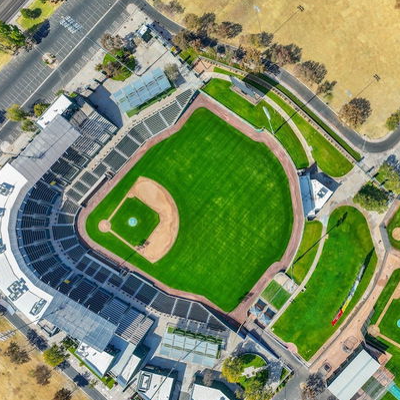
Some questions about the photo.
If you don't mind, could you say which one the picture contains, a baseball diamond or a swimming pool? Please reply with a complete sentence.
There is a baseball diamond in the scene.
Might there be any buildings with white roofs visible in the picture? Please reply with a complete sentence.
Yes, there's a building with a white roof here.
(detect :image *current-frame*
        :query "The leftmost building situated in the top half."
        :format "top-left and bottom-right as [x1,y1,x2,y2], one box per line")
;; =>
[37,95,95,129]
